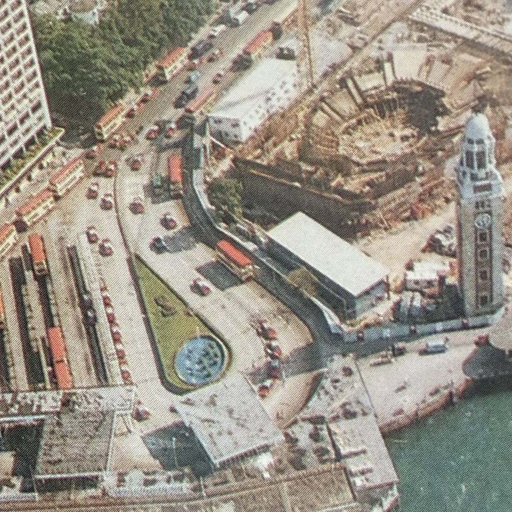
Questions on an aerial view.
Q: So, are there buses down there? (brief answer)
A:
Yes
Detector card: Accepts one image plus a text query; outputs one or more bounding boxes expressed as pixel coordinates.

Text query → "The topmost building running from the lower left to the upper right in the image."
[206,40,317,143]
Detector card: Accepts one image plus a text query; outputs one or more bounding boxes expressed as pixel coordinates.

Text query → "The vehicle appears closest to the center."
[214,246,258,282]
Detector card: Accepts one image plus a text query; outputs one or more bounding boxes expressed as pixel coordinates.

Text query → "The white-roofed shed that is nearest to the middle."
[267,211,389,310]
